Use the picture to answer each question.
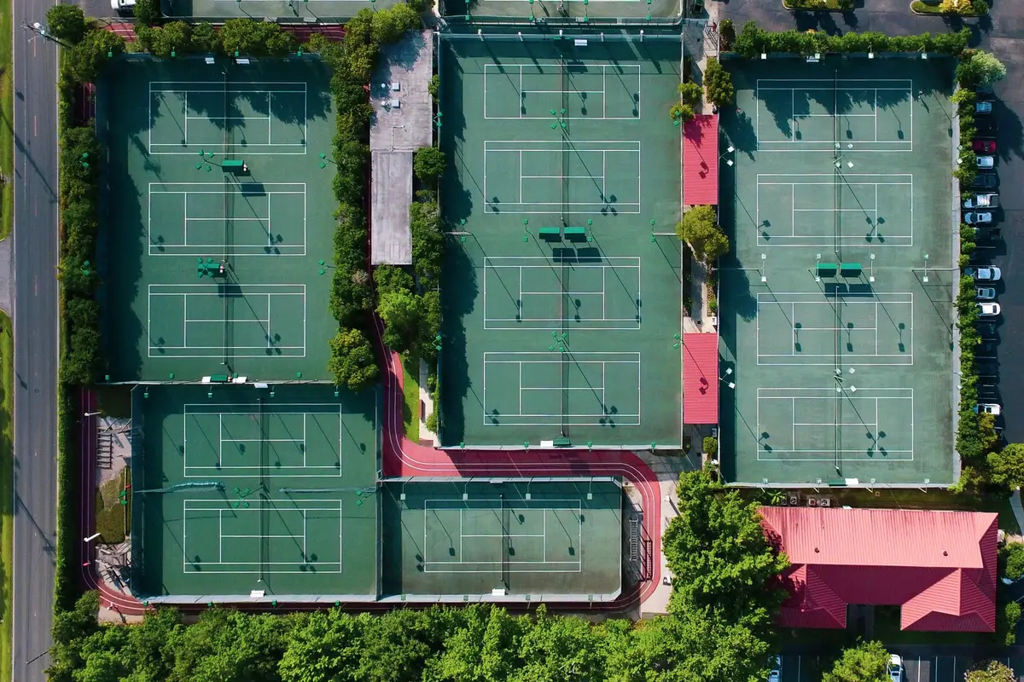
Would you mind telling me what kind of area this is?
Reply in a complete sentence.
It's a sports ground.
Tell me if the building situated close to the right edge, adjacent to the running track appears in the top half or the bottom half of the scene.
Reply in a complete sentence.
It is in the bottom half that the building situated close to the right edge, adjacent to the running track appears.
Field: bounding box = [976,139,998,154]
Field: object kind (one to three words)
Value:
car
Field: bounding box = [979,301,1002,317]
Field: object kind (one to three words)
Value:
car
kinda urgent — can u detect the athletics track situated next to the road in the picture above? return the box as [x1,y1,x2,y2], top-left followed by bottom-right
[76,22,661,616]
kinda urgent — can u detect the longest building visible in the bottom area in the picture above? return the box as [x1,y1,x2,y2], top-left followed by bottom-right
[756,507,998,636]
